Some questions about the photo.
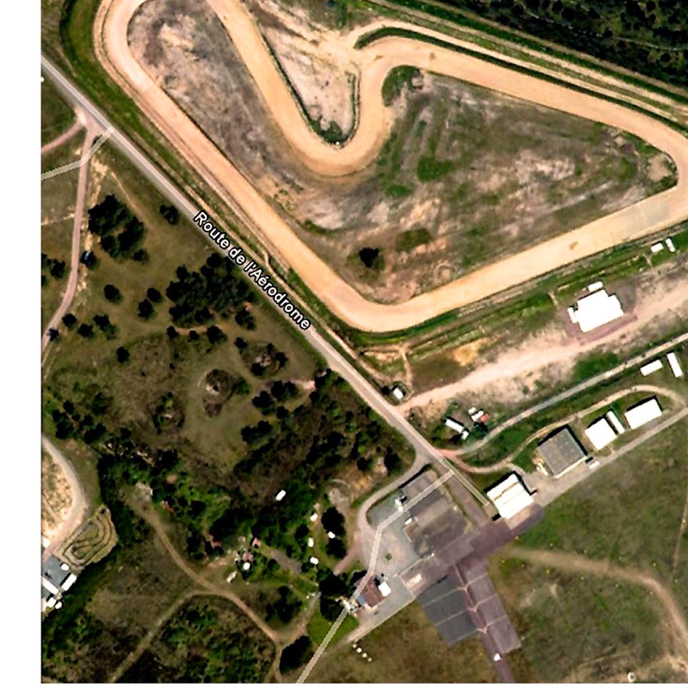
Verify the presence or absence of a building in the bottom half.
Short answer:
Yes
